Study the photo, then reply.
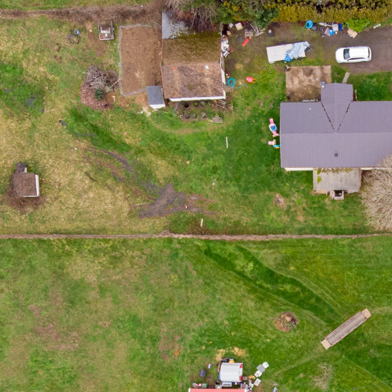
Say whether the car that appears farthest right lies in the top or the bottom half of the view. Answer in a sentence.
The car that appears farthest right is in the top half of the image.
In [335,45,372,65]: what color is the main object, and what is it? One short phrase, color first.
white car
